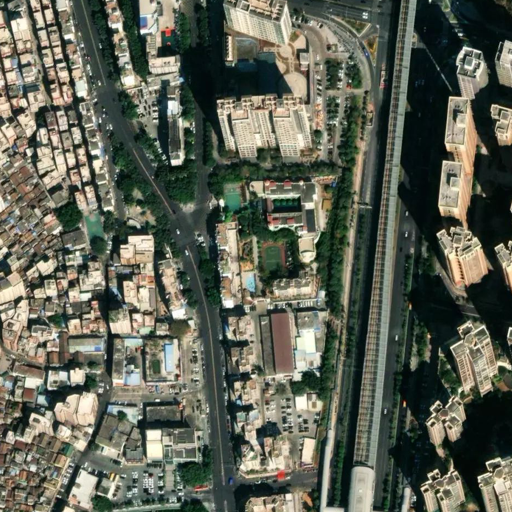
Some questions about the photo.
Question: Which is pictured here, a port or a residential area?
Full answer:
The area seen from above is a residential area.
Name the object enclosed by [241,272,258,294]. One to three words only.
swimming pool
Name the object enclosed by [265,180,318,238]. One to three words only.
building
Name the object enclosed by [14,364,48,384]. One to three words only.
house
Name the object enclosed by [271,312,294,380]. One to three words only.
house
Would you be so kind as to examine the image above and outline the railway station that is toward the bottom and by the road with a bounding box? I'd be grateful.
[346,466,376,512]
